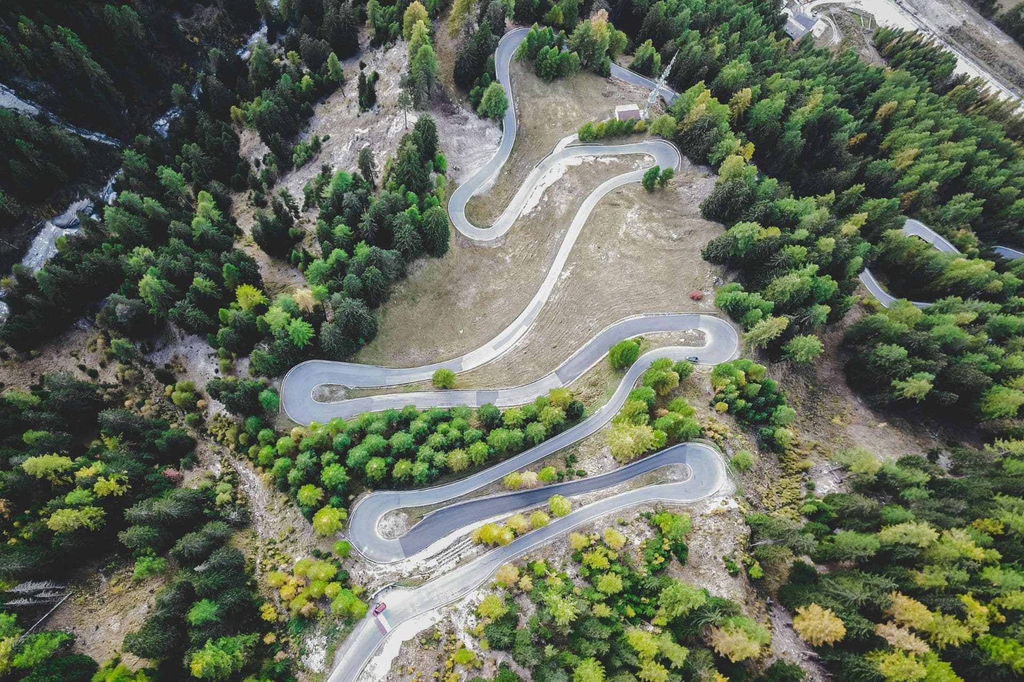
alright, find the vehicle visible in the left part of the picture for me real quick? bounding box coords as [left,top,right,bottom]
[372,603,387,619]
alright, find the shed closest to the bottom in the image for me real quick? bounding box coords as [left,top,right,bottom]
[615,104,639,121]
